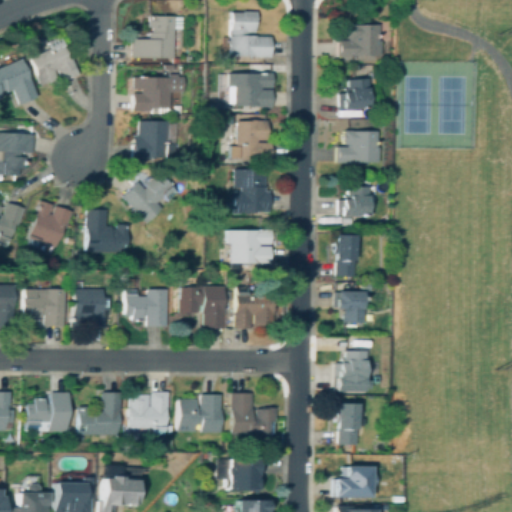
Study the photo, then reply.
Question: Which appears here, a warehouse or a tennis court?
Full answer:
Of the two, only a tennis court appears.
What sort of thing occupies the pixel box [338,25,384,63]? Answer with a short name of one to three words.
house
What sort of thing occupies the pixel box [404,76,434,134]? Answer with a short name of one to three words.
tennis court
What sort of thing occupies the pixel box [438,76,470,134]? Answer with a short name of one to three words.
tennis court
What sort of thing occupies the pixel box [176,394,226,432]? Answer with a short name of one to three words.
house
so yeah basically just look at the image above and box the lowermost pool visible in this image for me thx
[164,492,178,507]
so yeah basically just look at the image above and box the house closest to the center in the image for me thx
[218,230,276,264]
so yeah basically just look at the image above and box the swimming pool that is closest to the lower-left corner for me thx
[58,456,88,472]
